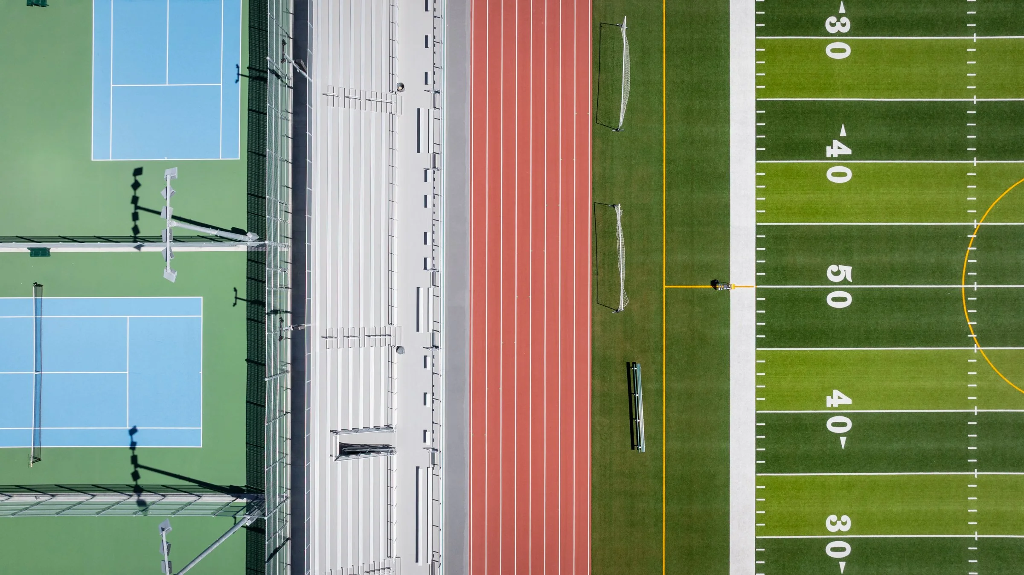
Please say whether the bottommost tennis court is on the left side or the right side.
left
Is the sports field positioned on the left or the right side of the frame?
right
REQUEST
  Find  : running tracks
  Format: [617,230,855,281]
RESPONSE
[469,0,592,575]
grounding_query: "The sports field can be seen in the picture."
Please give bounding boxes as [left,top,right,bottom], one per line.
[591,0,1024,575]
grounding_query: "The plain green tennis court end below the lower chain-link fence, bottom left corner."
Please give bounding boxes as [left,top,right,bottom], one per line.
[0,501,287,575]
